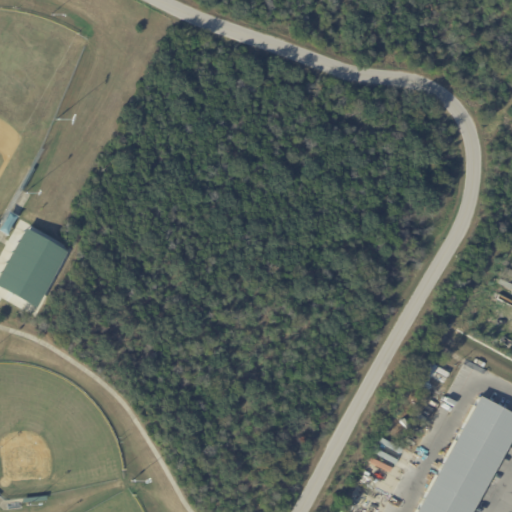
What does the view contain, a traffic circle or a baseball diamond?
baseball diamond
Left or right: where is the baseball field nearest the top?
left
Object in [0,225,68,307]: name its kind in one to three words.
building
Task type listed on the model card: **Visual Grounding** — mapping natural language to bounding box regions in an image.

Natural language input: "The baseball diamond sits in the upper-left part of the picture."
[0,9,86,216]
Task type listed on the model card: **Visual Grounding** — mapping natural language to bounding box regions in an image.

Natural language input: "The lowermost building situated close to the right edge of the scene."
[416,393,512,512]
